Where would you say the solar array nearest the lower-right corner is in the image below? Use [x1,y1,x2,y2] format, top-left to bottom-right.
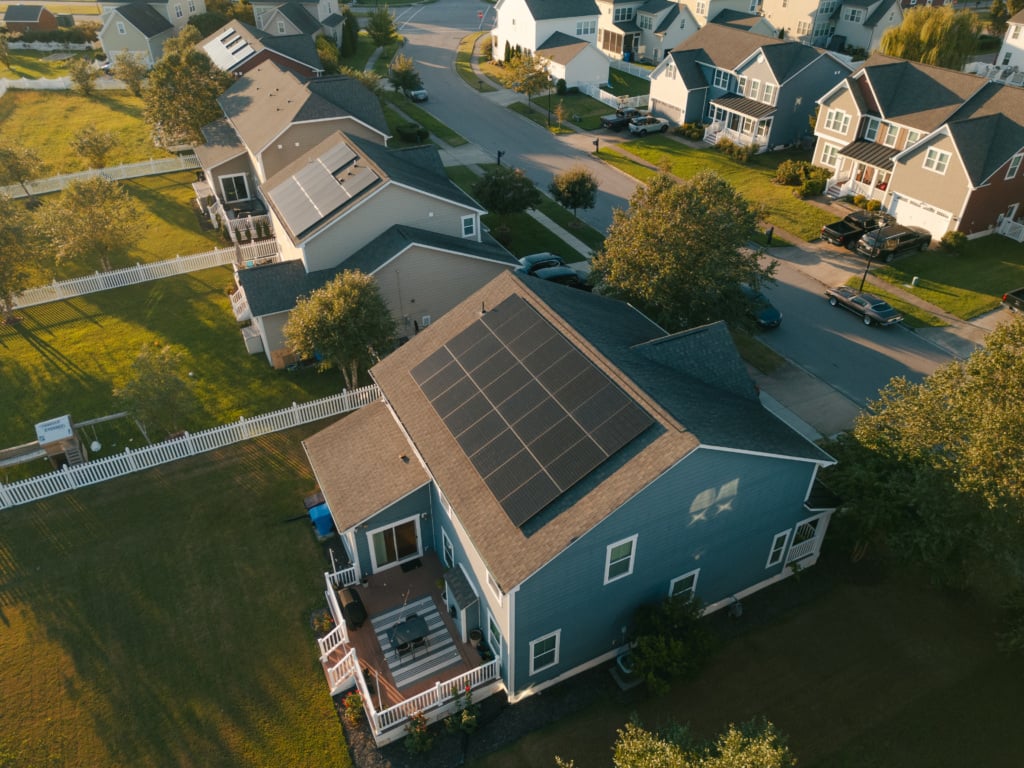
[413,294,654,524]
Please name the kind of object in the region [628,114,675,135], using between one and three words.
car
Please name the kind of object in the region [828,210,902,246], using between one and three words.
truck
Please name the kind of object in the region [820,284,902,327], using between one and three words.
car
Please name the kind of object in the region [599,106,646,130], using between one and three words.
truck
